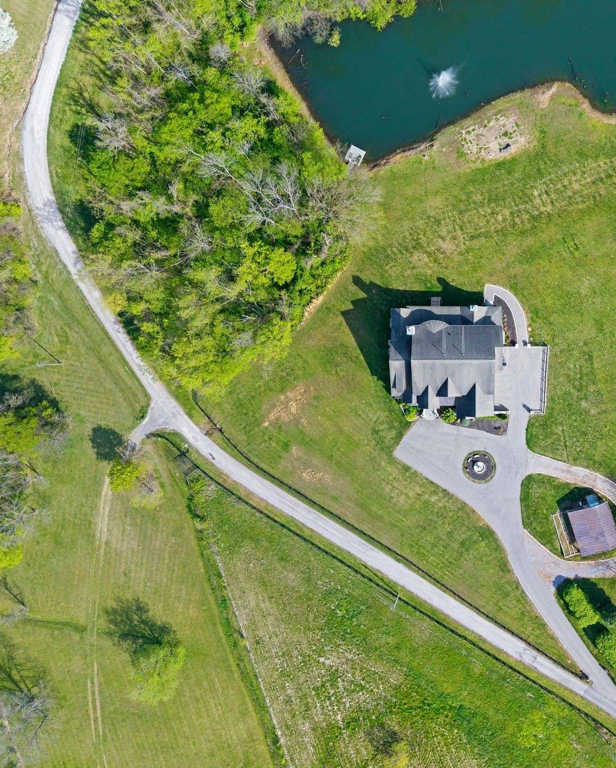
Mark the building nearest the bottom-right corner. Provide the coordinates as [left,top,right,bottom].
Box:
[568,501,616,557]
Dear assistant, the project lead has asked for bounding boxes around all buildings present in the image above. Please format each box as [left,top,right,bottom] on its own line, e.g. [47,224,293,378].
[568,501,616,557]
[387,305,504,419]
